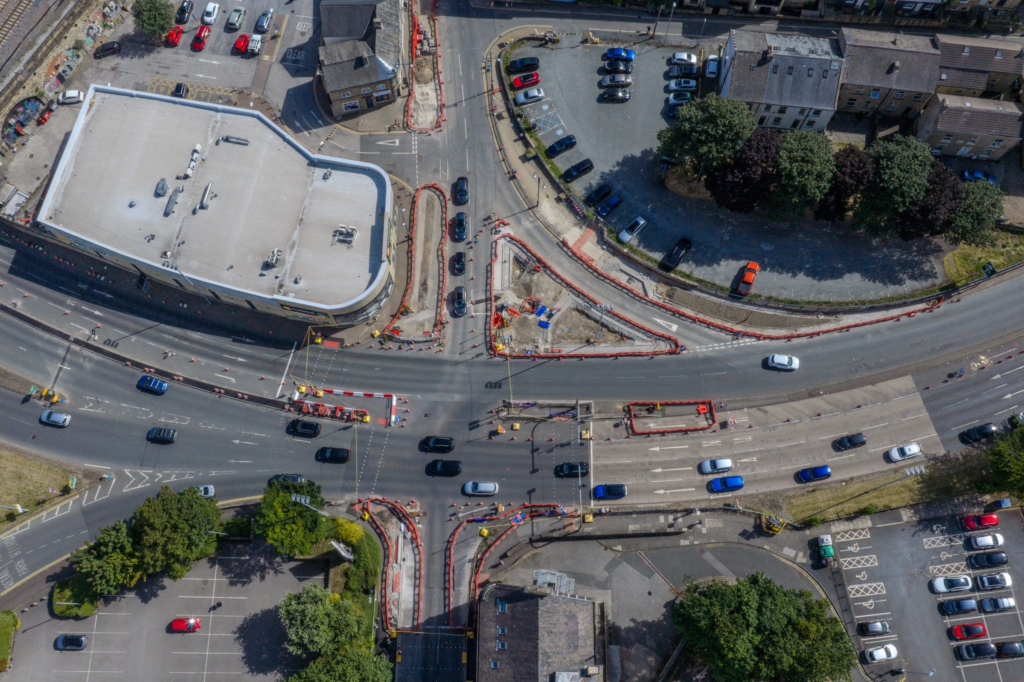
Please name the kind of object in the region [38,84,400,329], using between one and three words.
building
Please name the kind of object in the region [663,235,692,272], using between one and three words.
truck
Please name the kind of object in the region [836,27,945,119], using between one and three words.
house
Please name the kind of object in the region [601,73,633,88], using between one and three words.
car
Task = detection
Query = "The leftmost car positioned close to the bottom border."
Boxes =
[53,634,89,652]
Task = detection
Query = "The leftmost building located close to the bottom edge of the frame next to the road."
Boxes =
[476,584,608,682]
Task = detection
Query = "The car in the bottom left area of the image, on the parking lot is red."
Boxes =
[171,616,203,633]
